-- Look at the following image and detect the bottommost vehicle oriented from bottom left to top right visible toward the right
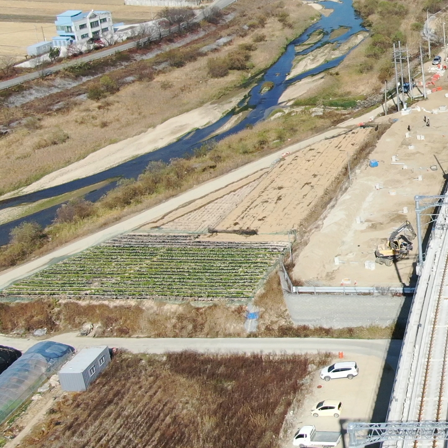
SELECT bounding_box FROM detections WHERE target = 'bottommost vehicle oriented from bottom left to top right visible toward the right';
[372,219,432,265]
